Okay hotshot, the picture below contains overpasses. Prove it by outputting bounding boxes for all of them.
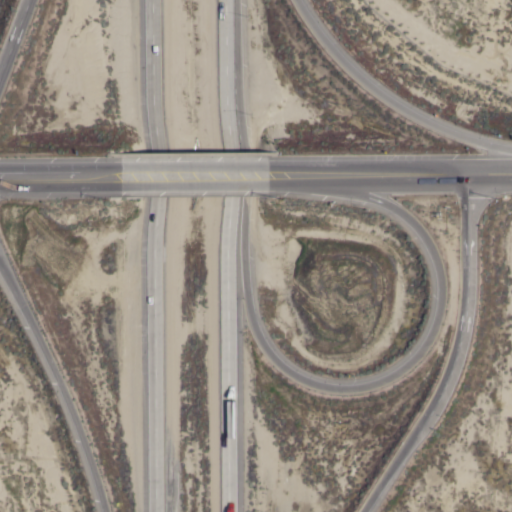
[110,152,282,198]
